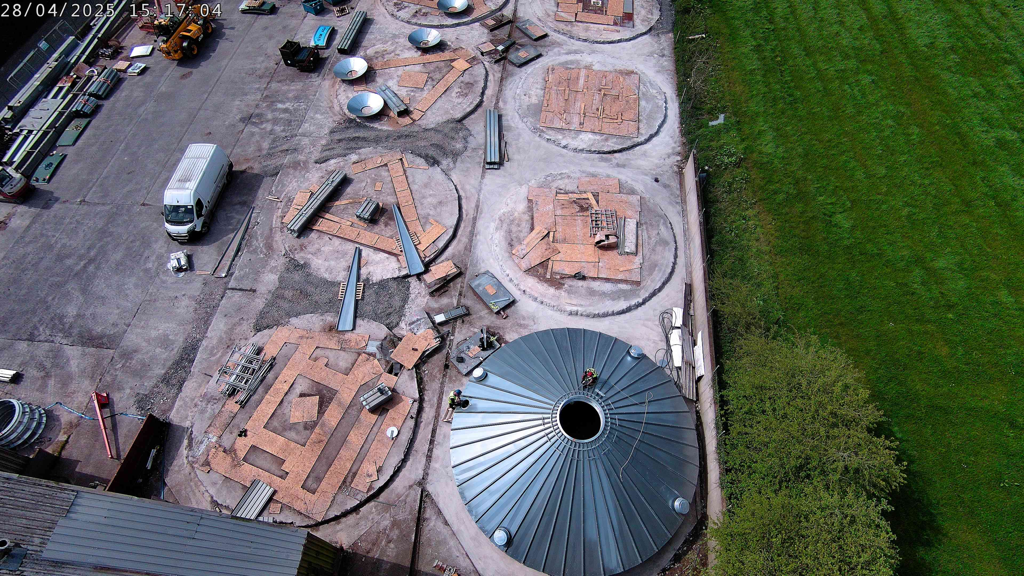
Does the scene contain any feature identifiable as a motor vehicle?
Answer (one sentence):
Yes, there's a motor vehicle down there.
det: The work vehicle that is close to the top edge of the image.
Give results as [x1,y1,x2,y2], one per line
[146,5,216,60]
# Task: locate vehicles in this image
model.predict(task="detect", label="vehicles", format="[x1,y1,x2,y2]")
[146,5,216,60]
[164,142,235,243]
[0,161,33,203]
